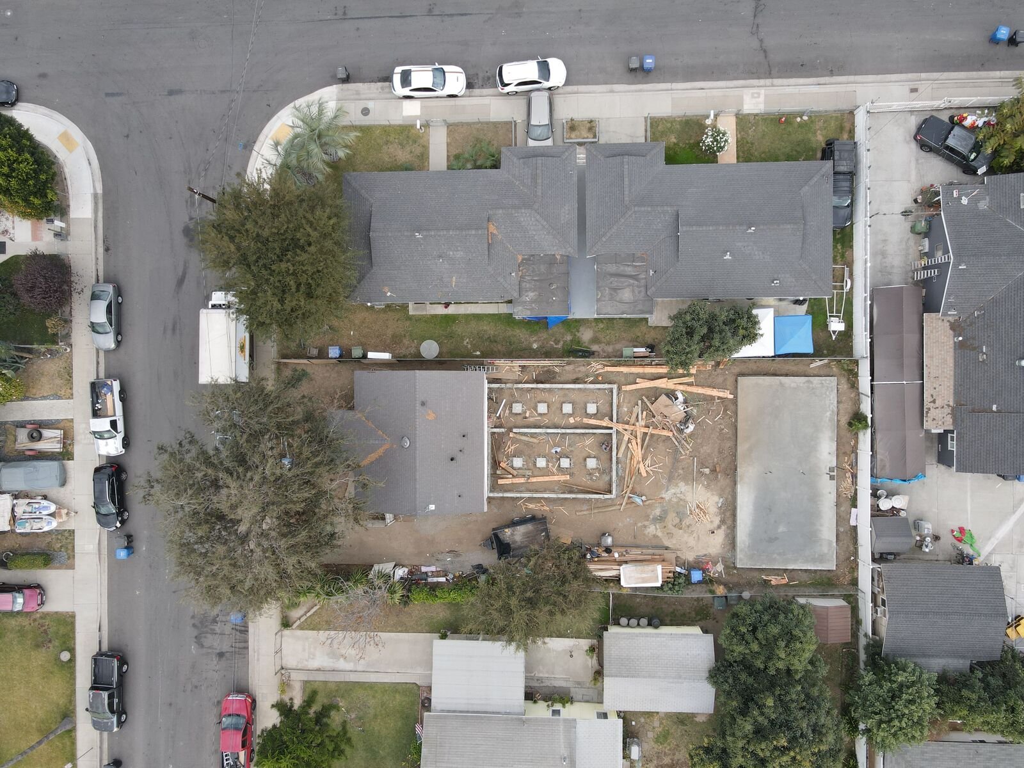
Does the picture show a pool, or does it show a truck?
truck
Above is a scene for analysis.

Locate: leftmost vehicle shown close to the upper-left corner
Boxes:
[0,80,23,110]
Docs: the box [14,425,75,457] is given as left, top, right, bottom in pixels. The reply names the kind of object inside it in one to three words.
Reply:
trailer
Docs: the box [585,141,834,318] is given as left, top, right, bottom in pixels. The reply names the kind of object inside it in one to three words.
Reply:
house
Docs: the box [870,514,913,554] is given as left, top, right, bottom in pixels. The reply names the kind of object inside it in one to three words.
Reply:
shed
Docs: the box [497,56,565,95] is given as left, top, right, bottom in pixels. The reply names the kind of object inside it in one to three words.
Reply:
car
